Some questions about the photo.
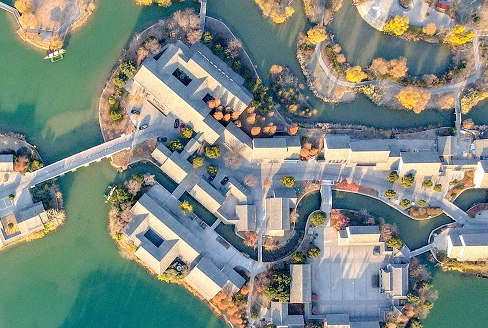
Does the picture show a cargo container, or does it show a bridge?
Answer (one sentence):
It is a bridge that can be seen here.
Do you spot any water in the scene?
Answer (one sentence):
Yes, some water is visible.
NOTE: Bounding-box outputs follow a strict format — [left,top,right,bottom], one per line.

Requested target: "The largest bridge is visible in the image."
[17,133,138,192]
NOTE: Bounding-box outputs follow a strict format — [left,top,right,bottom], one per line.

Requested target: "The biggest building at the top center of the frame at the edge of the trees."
[135,29,255,141]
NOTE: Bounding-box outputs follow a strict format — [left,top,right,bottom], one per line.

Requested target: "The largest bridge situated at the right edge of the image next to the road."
[436,194,475,226]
